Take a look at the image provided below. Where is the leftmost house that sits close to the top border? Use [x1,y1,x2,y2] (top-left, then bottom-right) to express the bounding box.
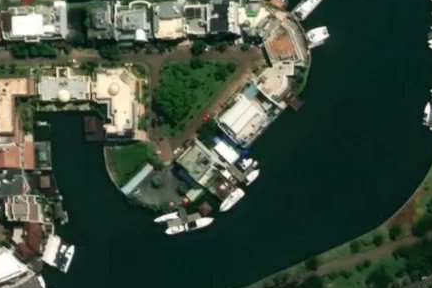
[2,1,67,42]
